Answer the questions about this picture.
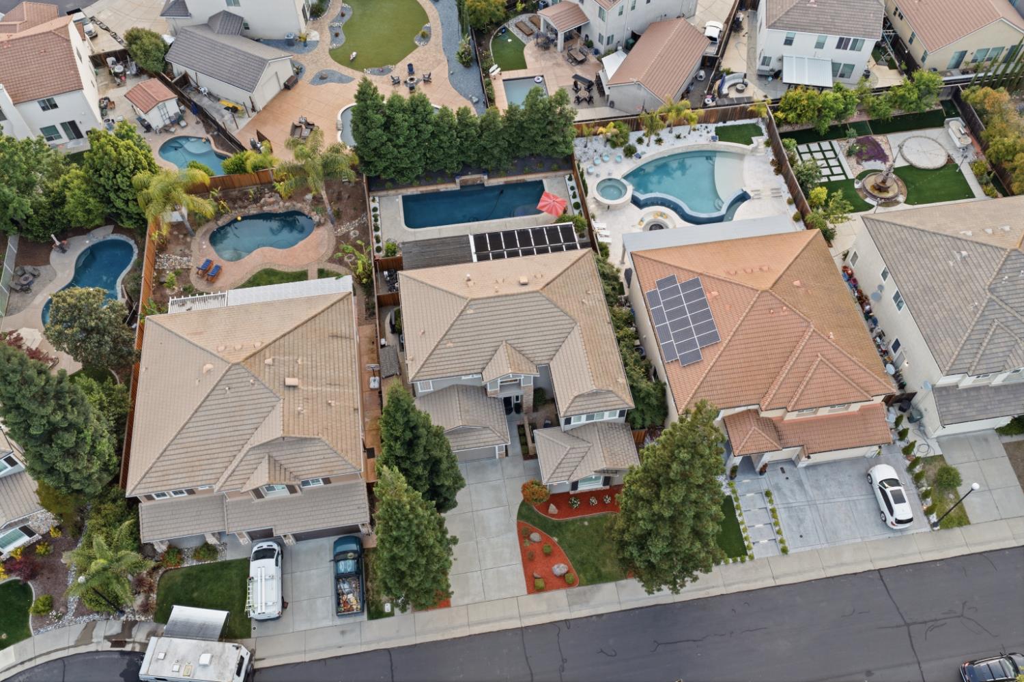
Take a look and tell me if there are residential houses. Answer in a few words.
Yes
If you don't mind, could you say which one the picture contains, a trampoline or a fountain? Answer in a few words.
fountain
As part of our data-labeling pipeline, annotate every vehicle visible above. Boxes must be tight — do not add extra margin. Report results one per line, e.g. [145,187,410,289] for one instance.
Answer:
[870,462,918,527]
[964,650,1024,682]
[69,0,98,36]
[239,538,282,624]
[140,605,258,682]
[327,533,365,621]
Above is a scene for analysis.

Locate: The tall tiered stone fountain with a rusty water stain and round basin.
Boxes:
[865,161,905,202]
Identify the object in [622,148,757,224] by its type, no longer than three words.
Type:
swimming pool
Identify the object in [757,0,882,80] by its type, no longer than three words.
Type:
house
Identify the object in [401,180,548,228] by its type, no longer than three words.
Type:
swimming pool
